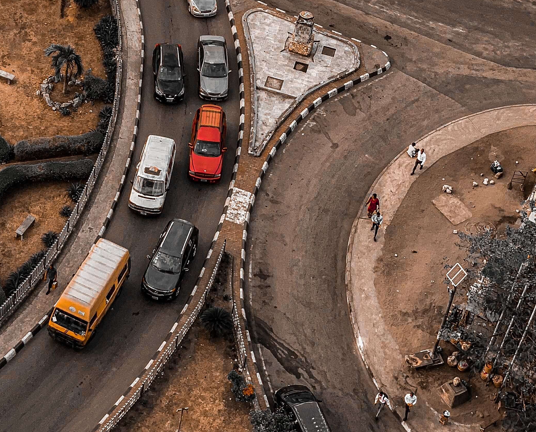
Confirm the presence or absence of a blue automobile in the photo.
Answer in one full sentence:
No, the photo shows no blue automobile.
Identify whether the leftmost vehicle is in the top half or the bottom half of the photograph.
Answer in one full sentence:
It is in the bottom half that the leftmost vehicle appears.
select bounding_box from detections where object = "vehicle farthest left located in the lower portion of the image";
[48,234,132,353]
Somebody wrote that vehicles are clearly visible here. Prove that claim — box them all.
[185,105,230,183]
[48,234,132,353]
[128,132,179,218]
[194,36,234,100]
[150,38,190,105]
[271,381,331,432]
[142,214,201,302]
[185,0,217,19]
